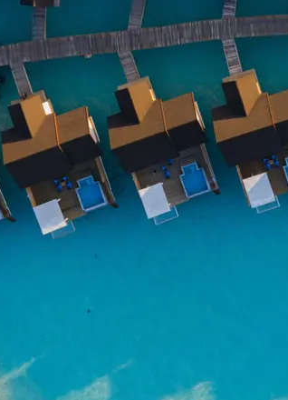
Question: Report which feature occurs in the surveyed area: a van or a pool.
pool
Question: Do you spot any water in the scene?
Yes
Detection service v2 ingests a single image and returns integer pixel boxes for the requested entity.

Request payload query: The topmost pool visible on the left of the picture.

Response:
[78,181,108,215]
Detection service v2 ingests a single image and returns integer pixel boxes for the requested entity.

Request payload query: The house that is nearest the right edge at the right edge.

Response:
[213,70,288,218]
